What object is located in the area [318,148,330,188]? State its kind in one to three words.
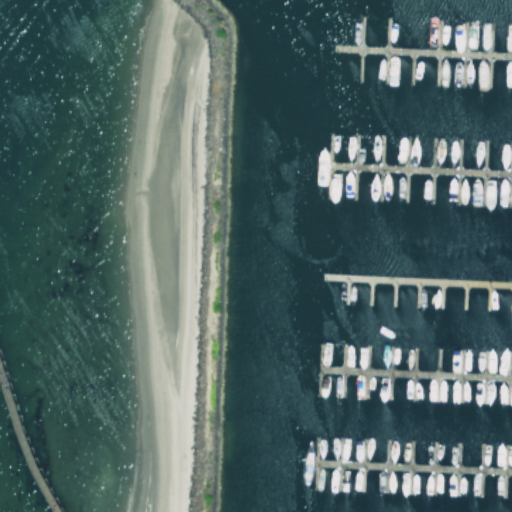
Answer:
boat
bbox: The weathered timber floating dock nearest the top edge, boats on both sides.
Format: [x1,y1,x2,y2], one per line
[335,16,512,89]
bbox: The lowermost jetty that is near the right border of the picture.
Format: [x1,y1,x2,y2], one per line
[315,437,512,500]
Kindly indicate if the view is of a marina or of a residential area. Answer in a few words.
marina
